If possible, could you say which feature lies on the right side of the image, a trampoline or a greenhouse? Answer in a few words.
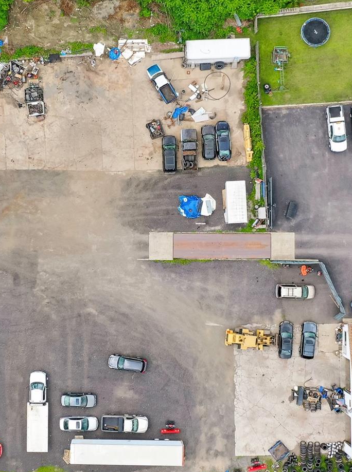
trampoline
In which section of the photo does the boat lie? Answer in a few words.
center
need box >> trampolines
[301,15,331,46]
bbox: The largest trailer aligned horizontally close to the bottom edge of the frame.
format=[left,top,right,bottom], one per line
[70,435,184,466]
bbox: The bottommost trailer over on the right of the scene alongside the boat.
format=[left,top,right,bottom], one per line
[221,181,246,223]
